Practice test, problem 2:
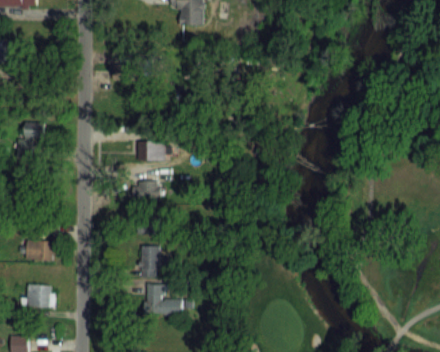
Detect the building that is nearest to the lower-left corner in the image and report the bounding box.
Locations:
[10,336,32,352]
